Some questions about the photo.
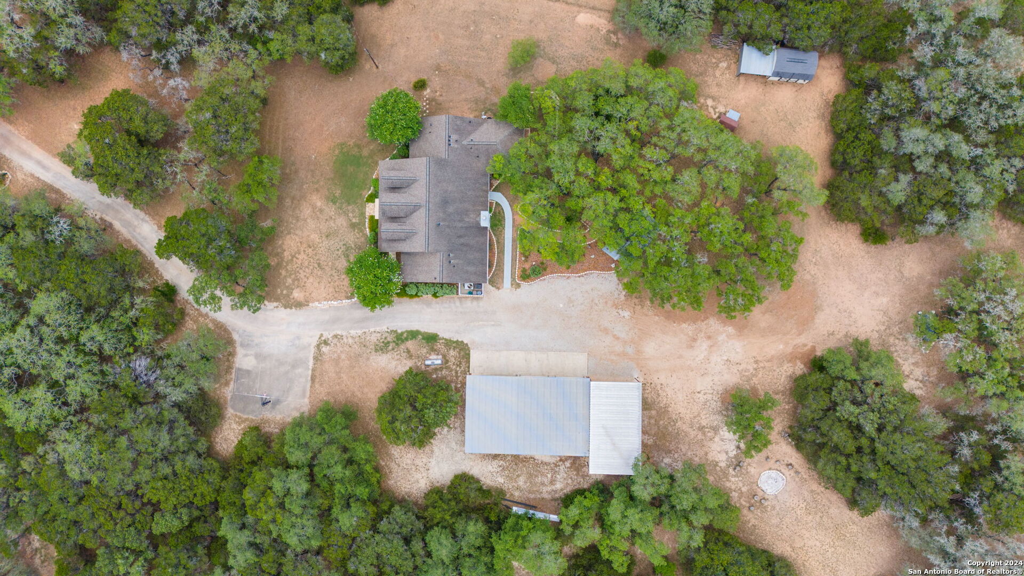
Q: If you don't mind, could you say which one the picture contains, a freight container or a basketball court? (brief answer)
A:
basketball court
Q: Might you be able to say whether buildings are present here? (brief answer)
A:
Yes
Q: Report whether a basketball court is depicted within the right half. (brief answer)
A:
No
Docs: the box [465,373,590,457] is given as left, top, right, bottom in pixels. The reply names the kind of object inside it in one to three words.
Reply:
building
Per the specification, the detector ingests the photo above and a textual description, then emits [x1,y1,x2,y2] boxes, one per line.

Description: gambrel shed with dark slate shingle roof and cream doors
[765,47,820,85]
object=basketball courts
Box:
[229,335,320,419]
